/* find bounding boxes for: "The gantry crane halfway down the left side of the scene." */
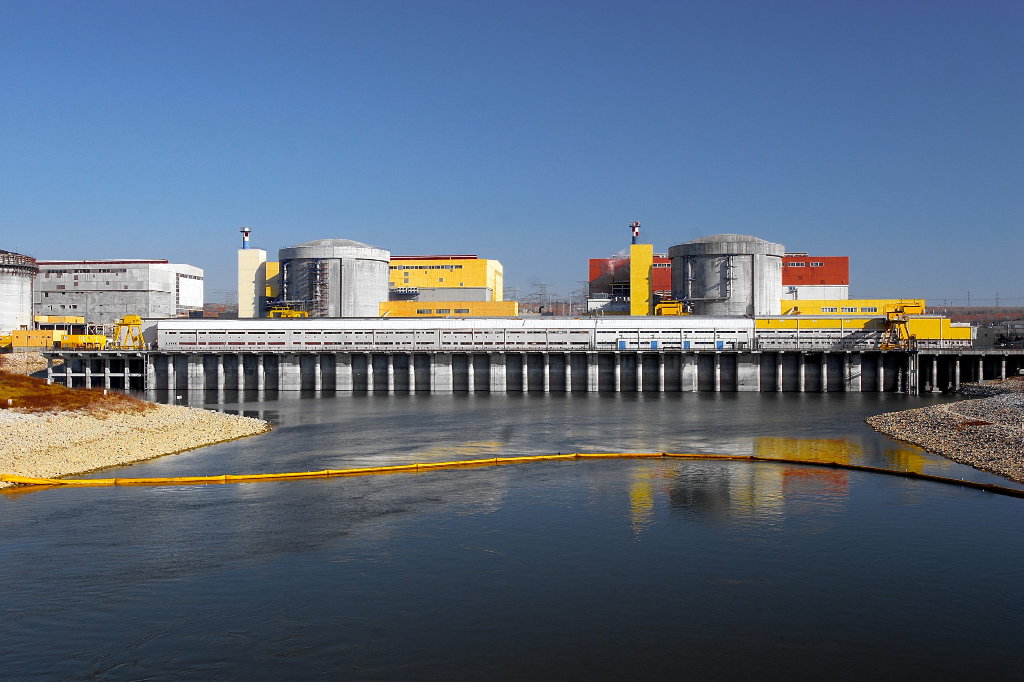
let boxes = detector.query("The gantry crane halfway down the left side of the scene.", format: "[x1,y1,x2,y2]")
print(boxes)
[112,316,147,350]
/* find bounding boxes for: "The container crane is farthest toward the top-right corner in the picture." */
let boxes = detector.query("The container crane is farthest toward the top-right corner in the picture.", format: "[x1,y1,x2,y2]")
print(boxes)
[884,311,916,349]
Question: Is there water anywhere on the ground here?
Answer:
Yes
